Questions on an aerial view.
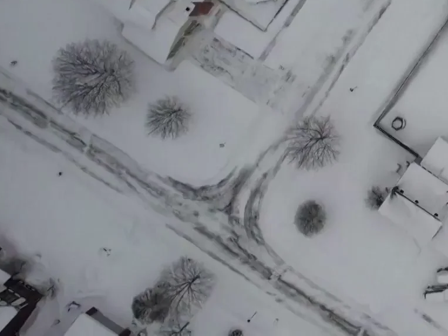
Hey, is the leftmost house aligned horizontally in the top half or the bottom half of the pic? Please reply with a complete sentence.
The leftmost house aligned horizontally sits in the bottom half of the picture.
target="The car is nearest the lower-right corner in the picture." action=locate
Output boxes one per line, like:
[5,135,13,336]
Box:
[423,287,448,304]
